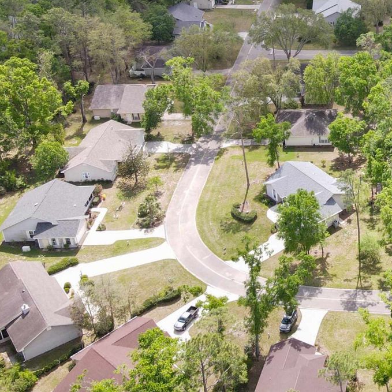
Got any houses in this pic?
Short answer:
Yes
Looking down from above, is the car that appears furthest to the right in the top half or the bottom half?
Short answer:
bottom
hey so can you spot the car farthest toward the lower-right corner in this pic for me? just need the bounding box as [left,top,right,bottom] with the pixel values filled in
[278,309,300,332]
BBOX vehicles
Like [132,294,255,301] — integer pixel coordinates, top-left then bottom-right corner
[278,309,300,332]
[171,303,201,331]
